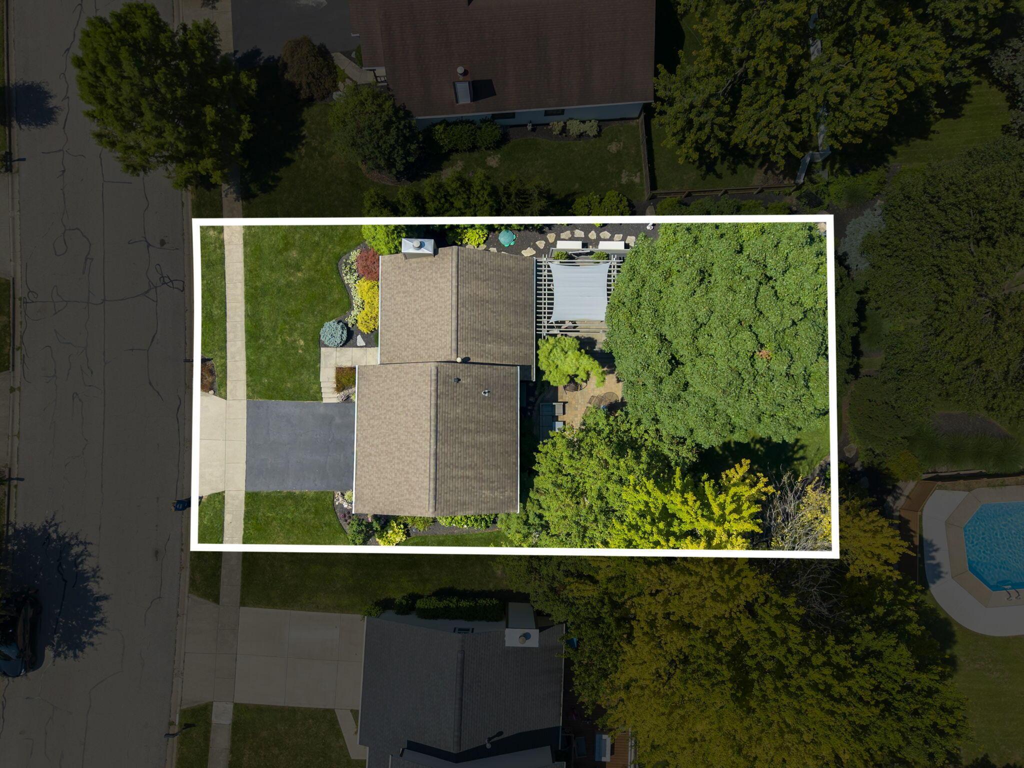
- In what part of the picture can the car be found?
bottom left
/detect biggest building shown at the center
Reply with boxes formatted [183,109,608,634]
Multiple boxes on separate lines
[351,239,536,518]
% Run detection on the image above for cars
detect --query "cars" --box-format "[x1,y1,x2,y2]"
[0,589,41,670]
